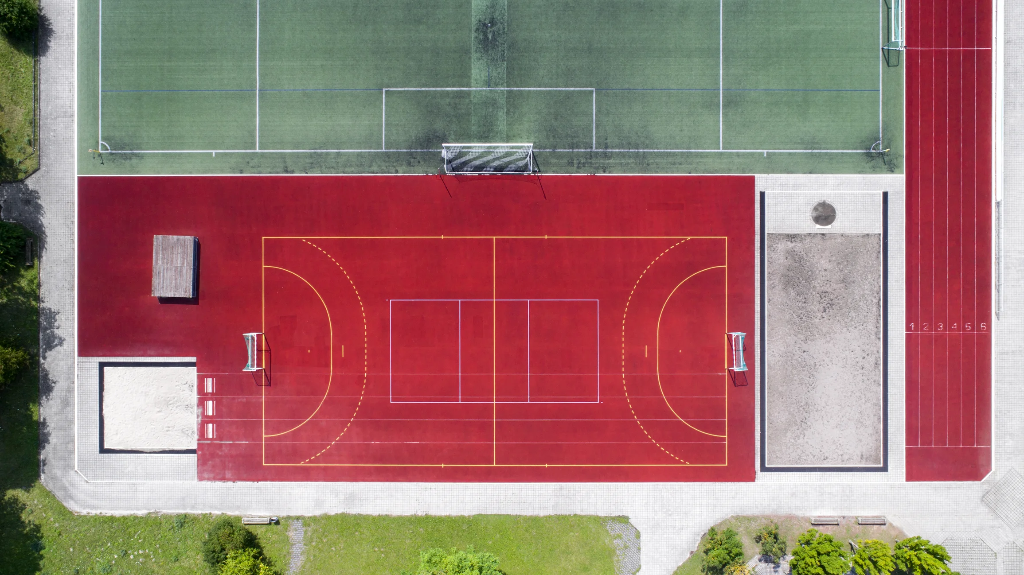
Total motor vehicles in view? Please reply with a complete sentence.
Not a single motor vehicle can be seen.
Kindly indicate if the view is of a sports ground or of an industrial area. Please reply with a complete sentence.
It's a sports ground.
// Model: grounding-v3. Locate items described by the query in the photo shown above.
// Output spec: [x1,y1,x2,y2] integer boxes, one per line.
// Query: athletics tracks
[906,0,992,481]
